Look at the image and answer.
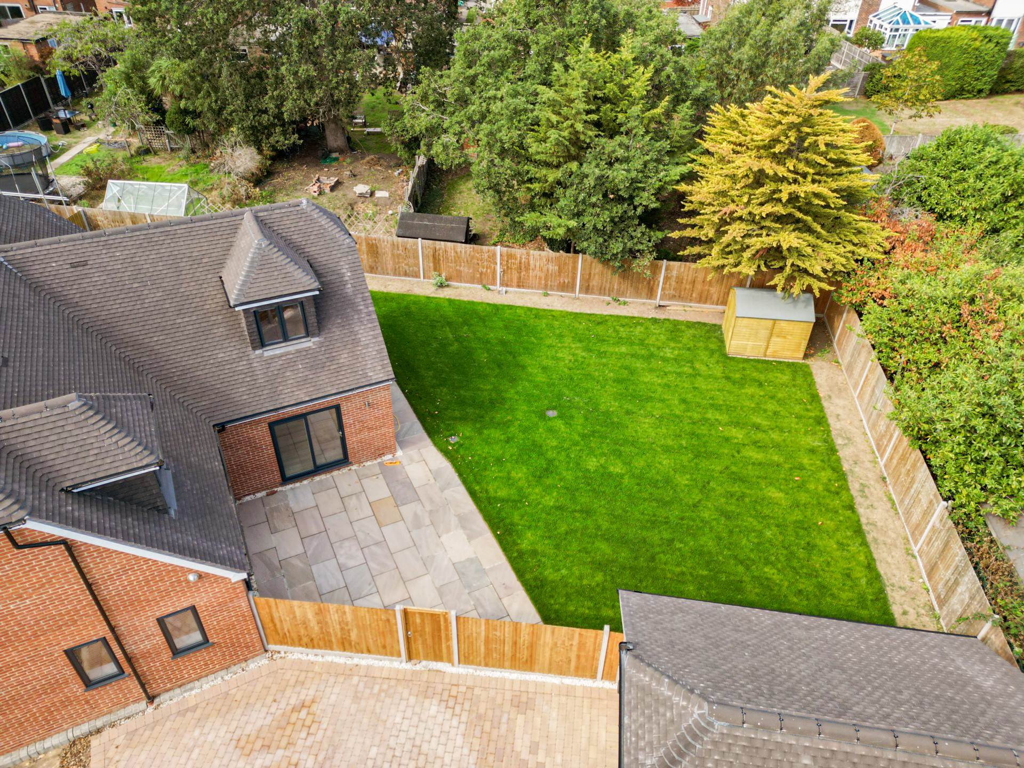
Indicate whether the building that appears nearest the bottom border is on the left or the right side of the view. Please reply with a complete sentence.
The building that appears nearest the bottom border is on the right side of the image.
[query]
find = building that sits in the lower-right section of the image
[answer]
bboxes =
[613,586,1024,768]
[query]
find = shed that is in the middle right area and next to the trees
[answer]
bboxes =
[720,284,819,361]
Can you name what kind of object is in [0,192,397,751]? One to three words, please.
house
